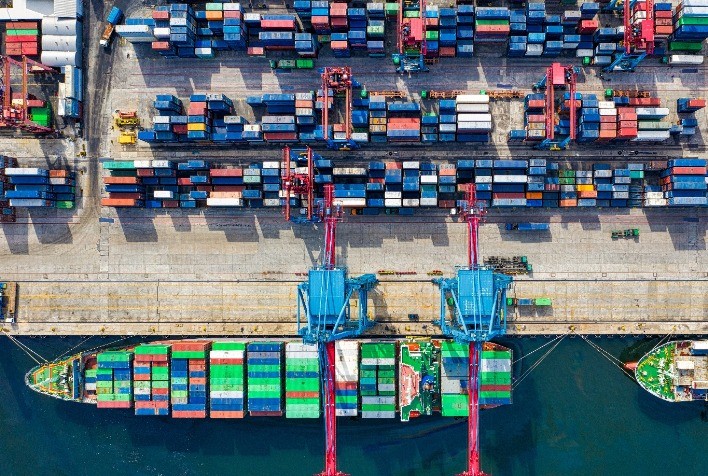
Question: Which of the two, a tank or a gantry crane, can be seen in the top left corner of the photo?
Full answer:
It is a gantry crane that can be seen in the top left corner of the photo.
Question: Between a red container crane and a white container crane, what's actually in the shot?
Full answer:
Looking from above, you can make out a red container crane.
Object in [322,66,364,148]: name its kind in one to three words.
container crane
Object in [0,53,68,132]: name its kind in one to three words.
container crane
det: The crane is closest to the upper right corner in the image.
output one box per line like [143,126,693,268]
[602,0,658,73]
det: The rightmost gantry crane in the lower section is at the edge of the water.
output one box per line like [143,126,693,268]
[427,183,511,476]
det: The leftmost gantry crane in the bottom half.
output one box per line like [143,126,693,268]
[292,183,384,476]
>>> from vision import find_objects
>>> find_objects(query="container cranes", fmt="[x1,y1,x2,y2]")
[427,183,511,476]
[281,144,327,222]
[532,59,581,149]
[0,53,68,132]
[395,0,431,65]
[322,66,364,148]
[602,0,658,73]
[292,183,384,476]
